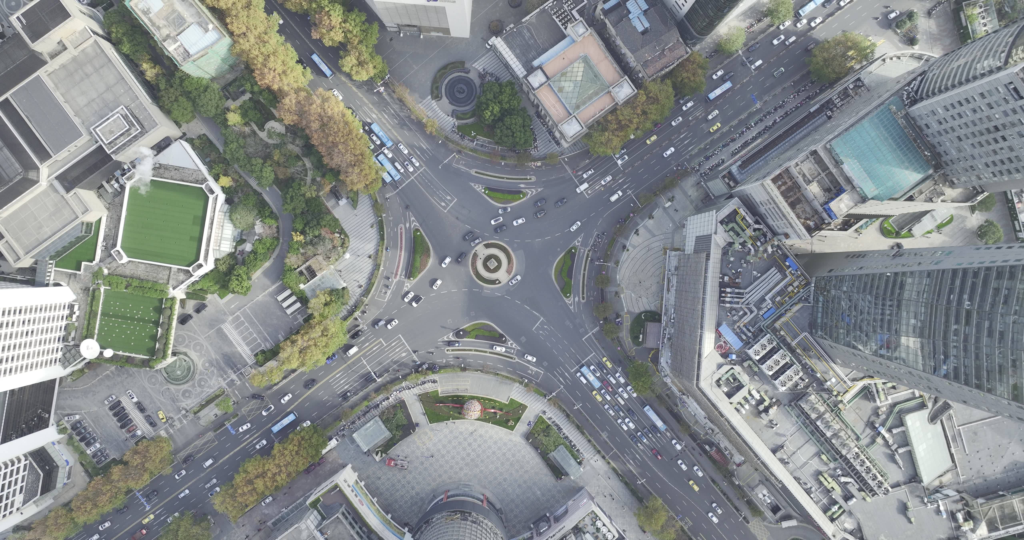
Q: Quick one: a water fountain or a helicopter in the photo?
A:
water fountain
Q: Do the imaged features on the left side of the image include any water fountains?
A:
Yes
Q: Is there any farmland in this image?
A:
No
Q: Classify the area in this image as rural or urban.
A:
urban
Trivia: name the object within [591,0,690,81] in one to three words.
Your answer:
building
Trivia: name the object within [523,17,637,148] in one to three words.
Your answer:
building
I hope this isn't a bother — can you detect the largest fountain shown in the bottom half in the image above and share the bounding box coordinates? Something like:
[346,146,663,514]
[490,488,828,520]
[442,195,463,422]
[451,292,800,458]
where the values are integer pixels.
[159,350,197,387]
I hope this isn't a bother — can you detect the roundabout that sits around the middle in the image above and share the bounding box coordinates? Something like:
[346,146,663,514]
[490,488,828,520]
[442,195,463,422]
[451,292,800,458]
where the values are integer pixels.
[469,241,515,287]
